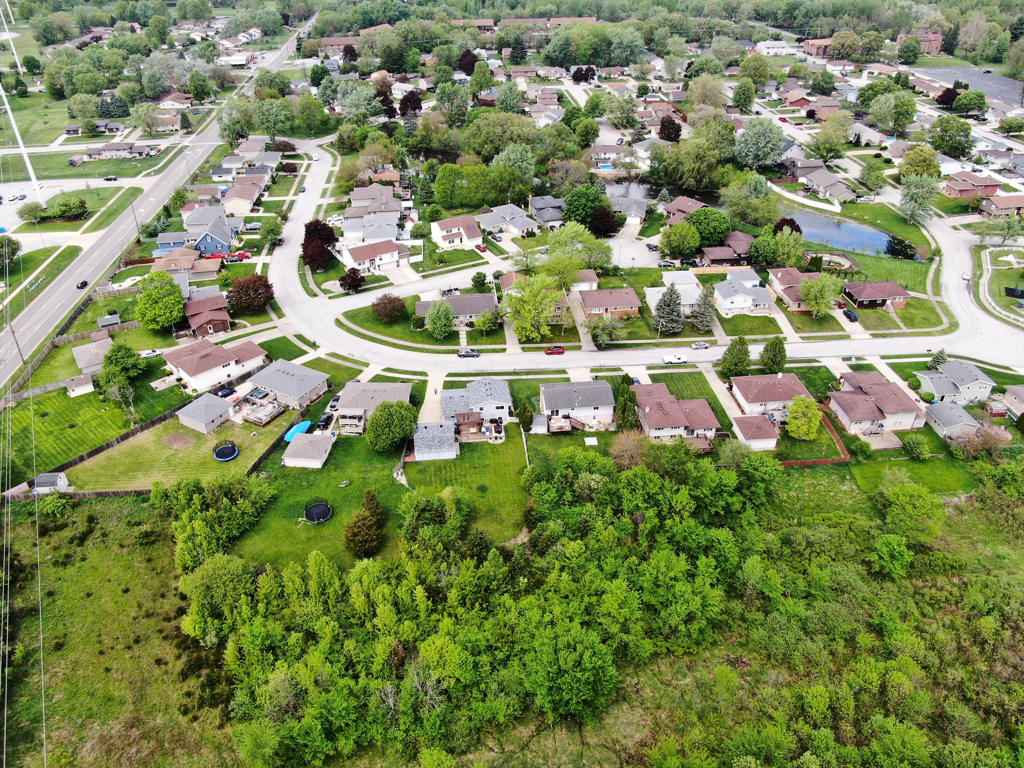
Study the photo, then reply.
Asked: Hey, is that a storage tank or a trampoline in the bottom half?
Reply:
trampoline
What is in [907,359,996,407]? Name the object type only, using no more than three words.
house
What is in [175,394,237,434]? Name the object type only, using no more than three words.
building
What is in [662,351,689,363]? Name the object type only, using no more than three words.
vehicle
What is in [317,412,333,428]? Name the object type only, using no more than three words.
car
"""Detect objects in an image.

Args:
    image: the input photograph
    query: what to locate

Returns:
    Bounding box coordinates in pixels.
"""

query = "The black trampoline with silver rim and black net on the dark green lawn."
[303,496,332,525]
